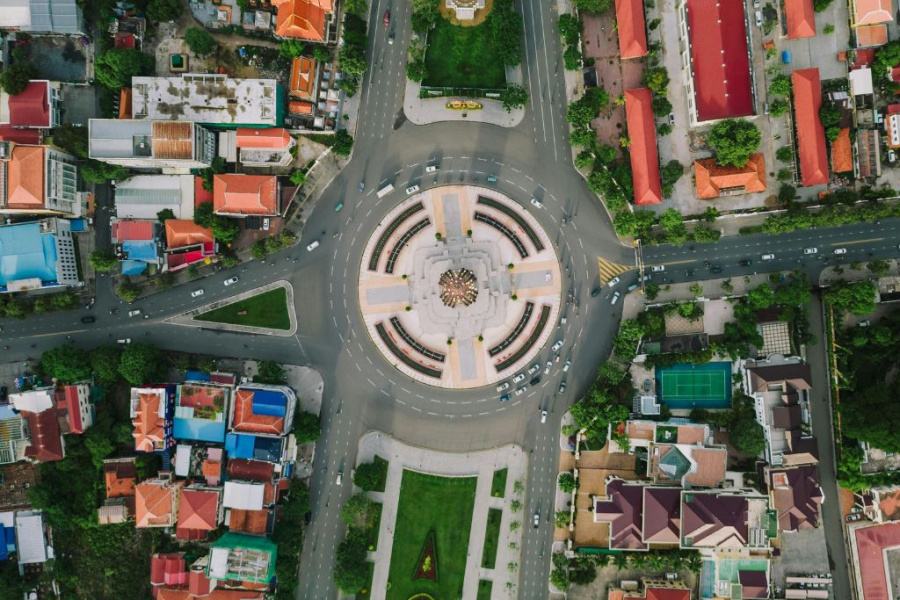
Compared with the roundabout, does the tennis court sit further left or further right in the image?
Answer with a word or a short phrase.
to the right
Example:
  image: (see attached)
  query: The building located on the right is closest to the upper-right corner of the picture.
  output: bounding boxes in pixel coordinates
[841,0,894,50]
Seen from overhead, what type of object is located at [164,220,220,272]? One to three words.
building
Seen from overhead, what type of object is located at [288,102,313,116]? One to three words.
shed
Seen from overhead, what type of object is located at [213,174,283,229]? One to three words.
house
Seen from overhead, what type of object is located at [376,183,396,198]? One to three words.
vehicle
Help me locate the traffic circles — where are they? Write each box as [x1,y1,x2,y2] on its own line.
[326,152,594,420]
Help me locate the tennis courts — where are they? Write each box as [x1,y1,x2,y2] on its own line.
[656,362,731,408]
